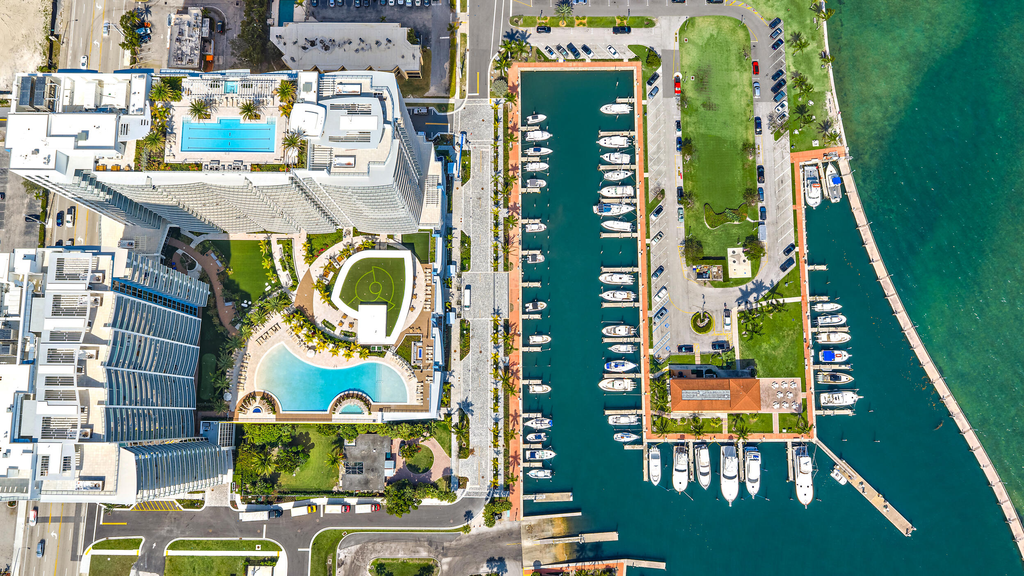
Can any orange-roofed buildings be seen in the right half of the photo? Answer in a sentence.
Yes, the scene does show an orange-roofed building in the right half of the photo.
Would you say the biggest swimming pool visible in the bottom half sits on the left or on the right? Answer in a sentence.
The biggest swimming pool visible in the bottom half sits on the left side.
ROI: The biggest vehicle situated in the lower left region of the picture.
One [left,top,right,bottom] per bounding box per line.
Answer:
[236,509,282,521]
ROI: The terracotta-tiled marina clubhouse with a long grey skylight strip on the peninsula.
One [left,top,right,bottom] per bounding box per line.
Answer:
[670,374,761,412]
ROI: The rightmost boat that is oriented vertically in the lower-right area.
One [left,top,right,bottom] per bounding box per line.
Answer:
[793,446,817,510]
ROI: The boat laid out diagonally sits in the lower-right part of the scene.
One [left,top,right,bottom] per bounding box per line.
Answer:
[830,469,847,485]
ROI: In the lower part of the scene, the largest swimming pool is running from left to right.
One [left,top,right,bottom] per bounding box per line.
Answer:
[254,342,409,412]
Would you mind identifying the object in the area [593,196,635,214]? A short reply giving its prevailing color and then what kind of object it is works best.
white boat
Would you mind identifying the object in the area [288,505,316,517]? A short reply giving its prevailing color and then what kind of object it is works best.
white vehicle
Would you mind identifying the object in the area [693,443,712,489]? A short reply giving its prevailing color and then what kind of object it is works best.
white boat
